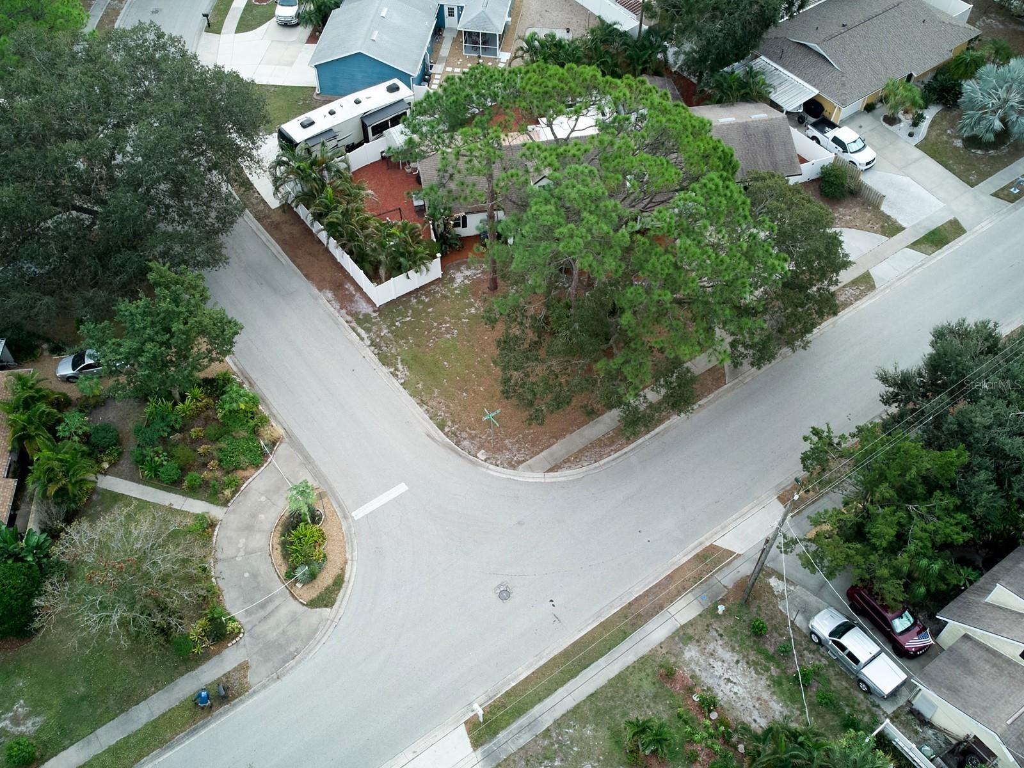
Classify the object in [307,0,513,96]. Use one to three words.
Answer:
house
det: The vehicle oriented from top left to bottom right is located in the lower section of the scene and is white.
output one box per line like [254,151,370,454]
[806,607,911,707]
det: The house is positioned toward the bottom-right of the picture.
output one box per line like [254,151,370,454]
[908,548,1024,768]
